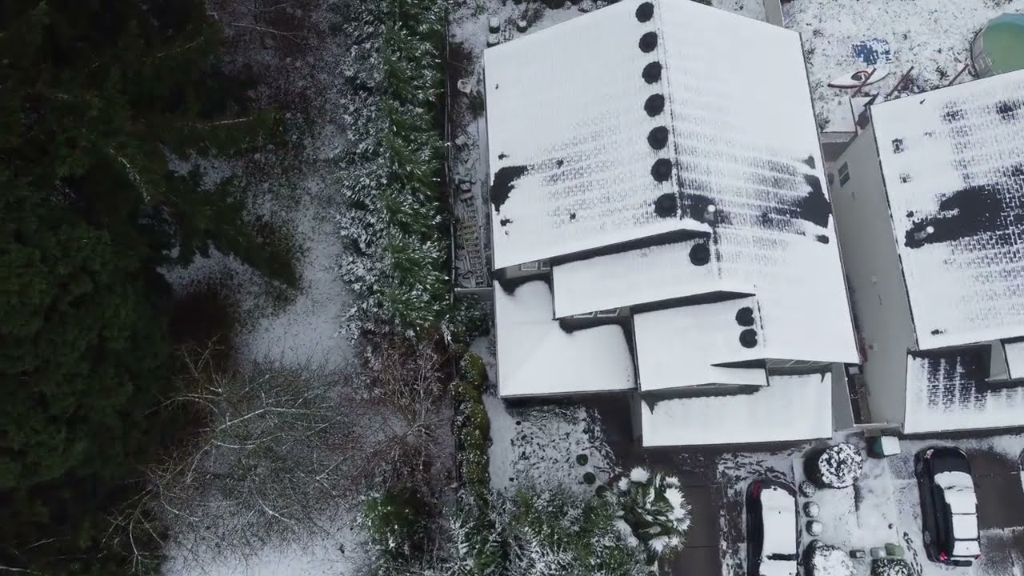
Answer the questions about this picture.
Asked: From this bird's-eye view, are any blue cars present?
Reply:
No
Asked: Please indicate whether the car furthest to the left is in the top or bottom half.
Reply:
bottom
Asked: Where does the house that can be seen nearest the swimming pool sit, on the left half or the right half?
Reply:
right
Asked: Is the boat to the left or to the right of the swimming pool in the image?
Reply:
left of it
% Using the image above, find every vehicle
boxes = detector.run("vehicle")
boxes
[912,446,985,568]
[743,479,805,576]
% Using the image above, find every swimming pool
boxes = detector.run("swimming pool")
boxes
[970,3,1024,76]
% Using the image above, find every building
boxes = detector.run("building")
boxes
[827,65,1024,436]
[482,0,861,450]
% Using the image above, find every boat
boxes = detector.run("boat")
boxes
[830,65,895,85]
